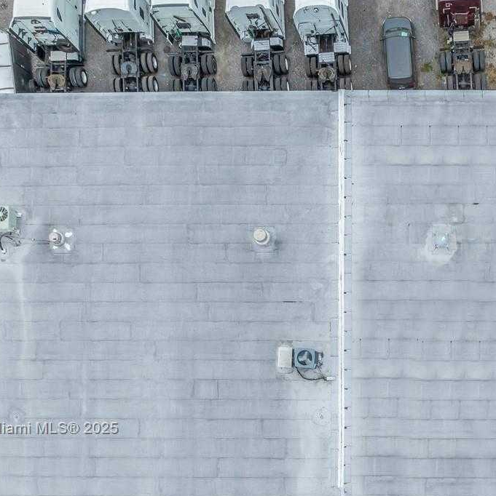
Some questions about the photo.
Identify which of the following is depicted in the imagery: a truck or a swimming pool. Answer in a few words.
truck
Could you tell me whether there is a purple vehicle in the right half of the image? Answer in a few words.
No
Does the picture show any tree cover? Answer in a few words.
No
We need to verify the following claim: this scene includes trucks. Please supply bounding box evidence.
[228,0,289,90]
[7,0,89,91]
[295,0,352,90]
[440,0,486,91]
[86,0,160,91]
[151,0,220,91]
